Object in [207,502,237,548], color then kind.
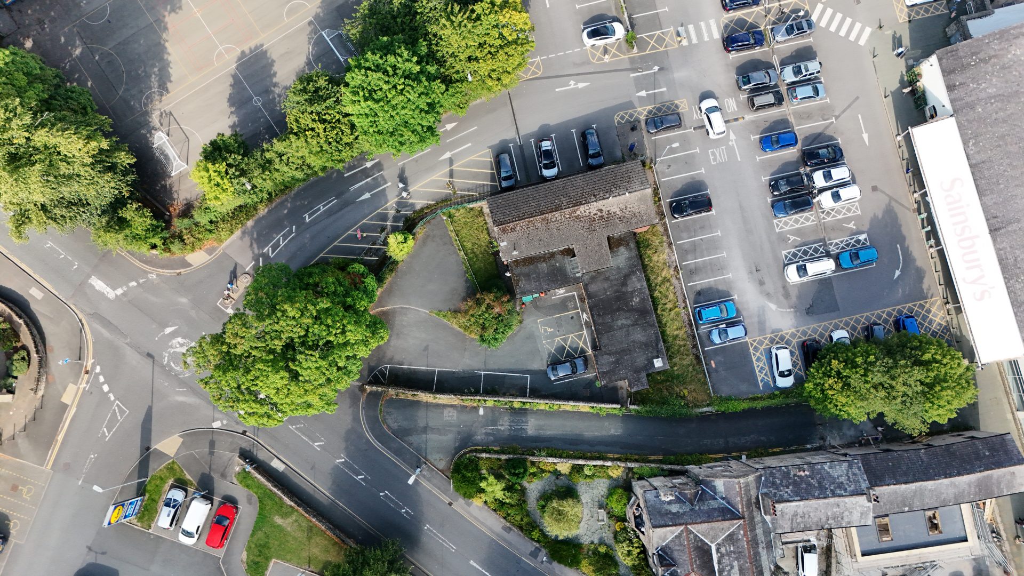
red car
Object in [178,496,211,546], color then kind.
white van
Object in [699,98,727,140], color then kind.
white car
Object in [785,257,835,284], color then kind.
white car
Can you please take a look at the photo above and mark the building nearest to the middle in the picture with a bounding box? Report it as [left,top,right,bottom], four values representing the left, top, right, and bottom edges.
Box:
[486,161,669,392]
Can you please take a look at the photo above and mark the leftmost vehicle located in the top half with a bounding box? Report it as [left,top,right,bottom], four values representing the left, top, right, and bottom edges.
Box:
[497,153,517,189]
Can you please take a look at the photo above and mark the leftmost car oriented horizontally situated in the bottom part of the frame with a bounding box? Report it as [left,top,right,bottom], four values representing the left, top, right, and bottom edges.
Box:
[546,356,589,380]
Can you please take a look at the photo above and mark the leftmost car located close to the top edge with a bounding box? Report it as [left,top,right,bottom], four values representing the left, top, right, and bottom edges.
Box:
[581,20,625,47]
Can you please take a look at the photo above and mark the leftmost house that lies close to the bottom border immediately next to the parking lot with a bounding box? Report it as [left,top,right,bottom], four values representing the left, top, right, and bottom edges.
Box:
[623,465,777,576]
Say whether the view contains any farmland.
No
